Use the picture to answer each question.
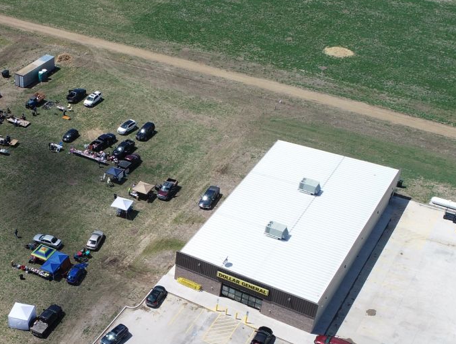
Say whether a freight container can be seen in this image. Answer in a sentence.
Yes, the frame does contain a freight container.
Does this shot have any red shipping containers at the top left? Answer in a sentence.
No, no red shipping container appears at the top left.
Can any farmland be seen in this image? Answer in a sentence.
Yes, some farmland is visible.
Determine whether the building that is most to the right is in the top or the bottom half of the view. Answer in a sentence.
The building that is most to the right sits in the bottom half of the picture.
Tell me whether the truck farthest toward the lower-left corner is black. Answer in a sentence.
Yes, black is the color of the truck farthest toward the lower-left corner.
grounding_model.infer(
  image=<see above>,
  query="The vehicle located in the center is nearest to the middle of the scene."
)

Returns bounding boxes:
[201,186,221,209]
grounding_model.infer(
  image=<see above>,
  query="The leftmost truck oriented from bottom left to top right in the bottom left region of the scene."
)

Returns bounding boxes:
[29,304,64,338]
